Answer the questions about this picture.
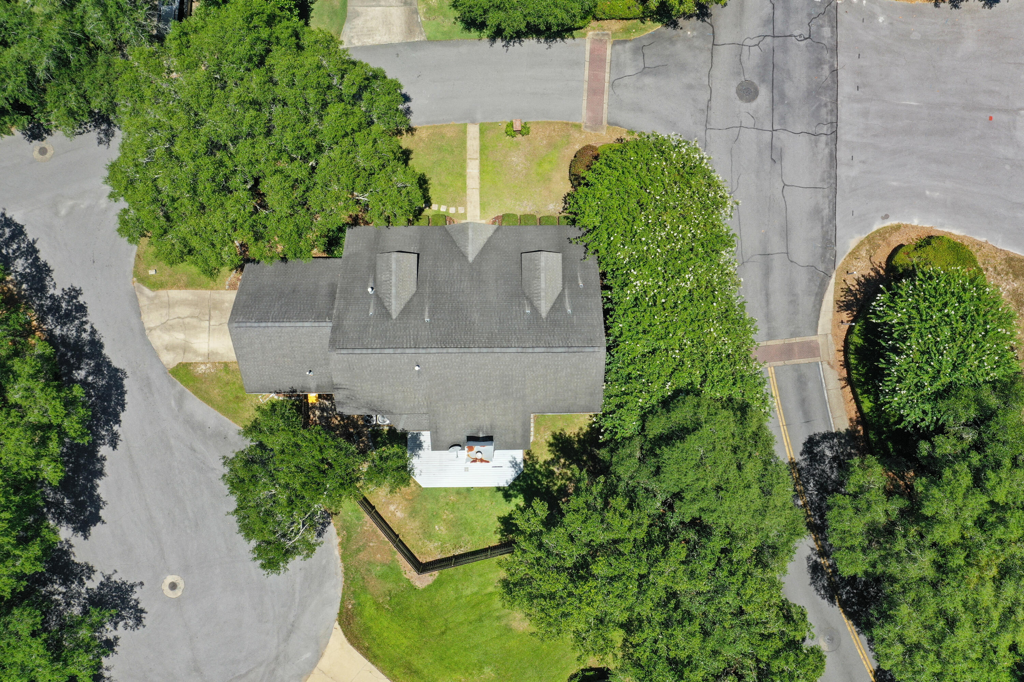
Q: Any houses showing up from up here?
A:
Yes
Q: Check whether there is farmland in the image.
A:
No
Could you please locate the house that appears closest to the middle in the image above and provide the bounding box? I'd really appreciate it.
[227,220,606,488]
